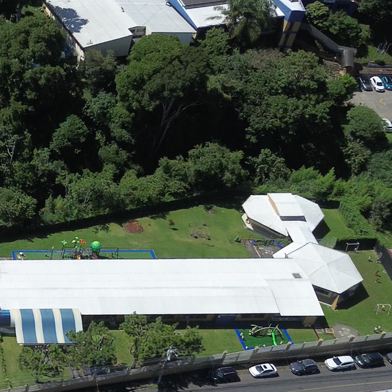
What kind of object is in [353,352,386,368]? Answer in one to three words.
car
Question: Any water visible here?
No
